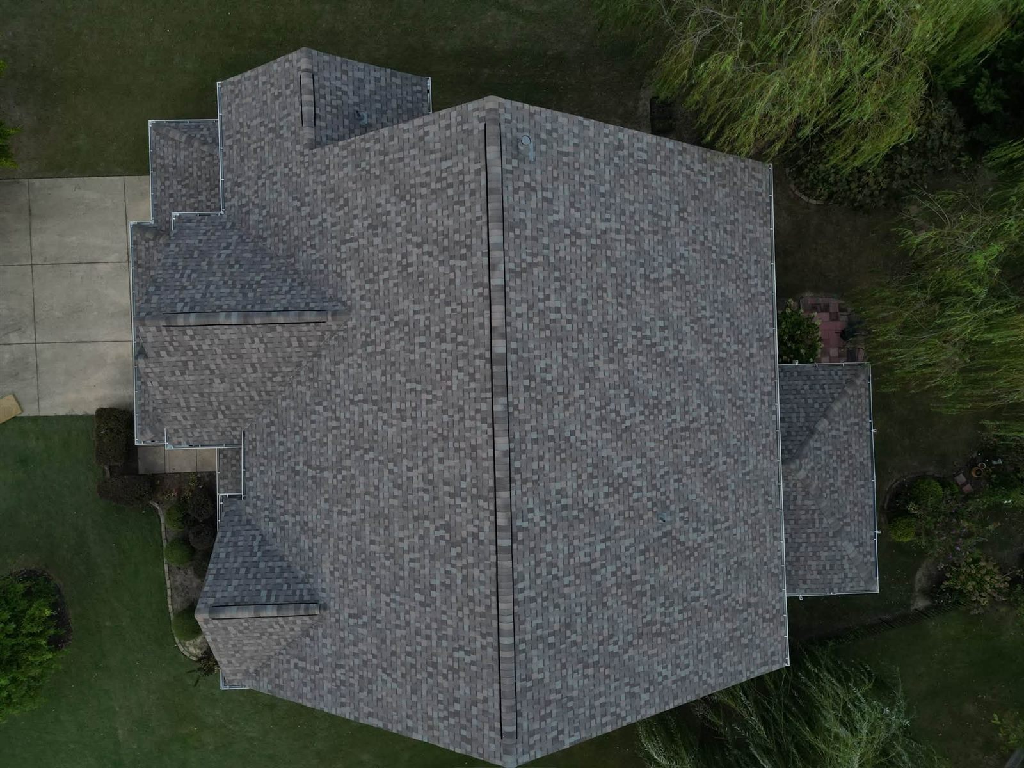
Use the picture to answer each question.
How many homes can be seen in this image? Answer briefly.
one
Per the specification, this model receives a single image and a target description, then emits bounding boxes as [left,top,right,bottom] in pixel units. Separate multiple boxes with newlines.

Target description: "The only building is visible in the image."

[131,48,880,766]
